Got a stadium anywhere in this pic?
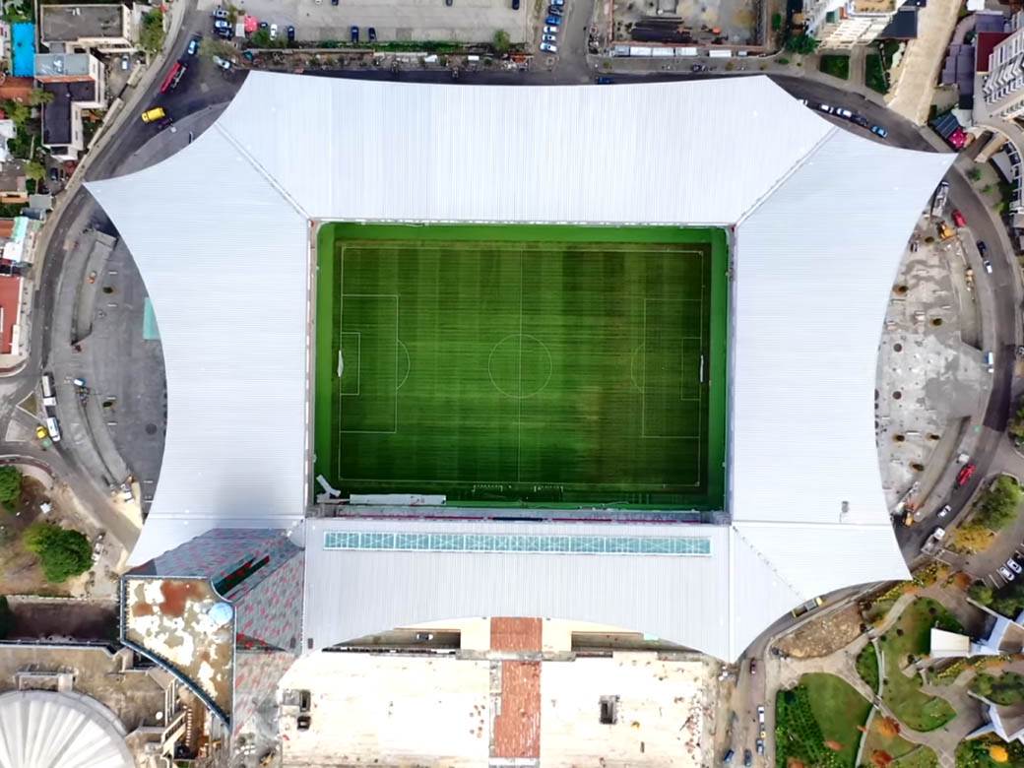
Yes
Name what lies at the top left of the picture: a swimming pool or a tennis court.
swimming pool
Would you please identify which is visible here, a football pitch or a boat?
football pitch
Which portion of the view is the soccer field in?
center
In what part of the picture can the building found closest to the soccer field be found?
bottom left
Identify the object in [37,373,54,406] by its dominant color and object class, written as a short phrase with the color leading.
white vehicle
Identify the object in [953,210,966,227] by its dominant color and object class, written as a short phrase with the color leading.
red vehicle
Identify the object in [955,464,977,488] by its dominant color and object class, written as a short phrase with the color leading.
red truck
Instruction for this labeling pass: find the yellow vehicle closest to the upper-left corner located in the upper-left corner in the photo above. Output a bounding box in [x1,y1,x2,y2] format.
[138,105,166,121]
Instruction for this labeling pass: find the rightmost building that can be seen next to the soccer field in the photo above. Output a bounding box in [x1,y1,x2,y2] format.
[120,528,303,756]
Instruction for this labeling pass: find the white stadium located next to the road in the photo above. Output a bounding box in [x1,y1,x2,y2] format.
[87,71,954,661]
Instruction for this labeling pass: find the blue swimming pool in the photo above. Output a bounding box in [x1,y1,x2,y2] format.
[11,21,35,77]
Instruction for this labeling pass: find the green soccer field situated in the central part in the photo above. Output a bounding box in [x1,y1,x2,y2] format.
[307,226,727,518]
